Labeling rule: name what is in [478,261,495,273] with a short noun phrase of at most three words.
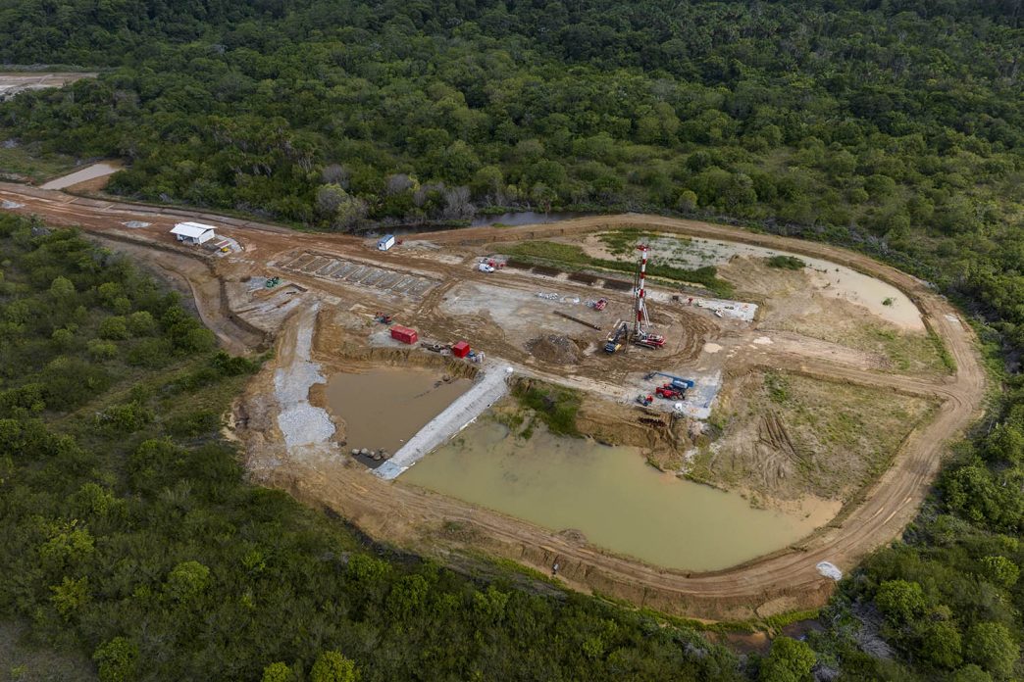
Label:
vehicle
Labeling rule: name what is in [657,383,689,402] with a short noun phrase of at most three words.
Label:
work vehicle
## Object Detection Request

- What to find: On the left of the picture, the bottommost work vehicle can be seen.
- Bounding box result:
[377,311,390,323]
